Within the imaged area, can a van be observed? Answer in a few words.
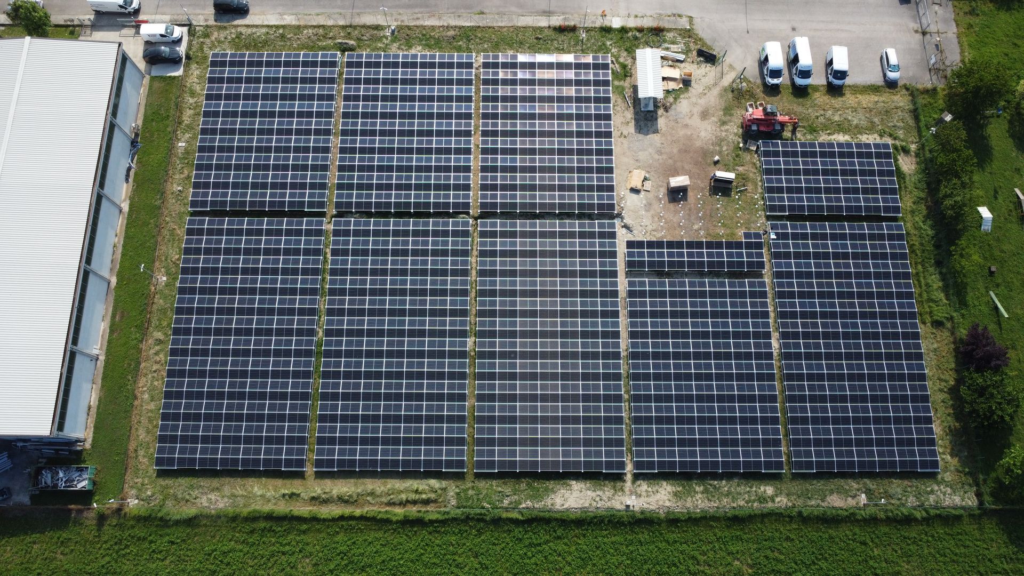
Yes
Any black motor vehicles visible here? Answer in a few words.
Yes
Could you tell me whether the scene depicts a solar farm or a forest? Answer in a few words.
solar farm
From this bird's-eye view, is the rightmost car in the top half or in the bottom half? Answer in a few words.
top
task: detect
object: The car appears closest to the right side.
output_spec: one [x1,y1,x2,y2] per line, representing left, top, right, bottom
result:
[879,50,902,82]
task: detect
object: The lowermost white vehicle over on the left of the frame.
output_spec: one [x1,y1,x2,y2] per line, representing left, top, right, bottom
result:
[139,22,182,43]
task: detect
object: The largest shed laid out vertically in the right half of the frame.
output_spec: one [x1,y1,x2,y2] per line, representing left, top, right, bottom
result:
[633,48,663,110]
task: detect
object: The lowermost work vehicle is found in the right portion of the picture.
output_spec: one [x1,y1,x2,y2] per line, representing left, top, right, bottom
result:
[742,106,807,135]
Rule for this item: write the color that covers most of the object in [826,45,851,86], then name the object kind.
white vehicle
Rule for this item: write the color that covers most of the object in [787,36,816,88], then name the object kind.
white van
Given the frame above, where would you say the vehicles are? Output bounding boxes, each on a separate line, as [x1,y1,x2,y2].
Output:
[826,45,851,86]
[212,0,251,12]
[142,43,183,64]
[84,0,141,13]
[139,22,182,43]
[759,39,788,88]
[742,106,807,135]
[879,50,902,82]
[787,36,816,88]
